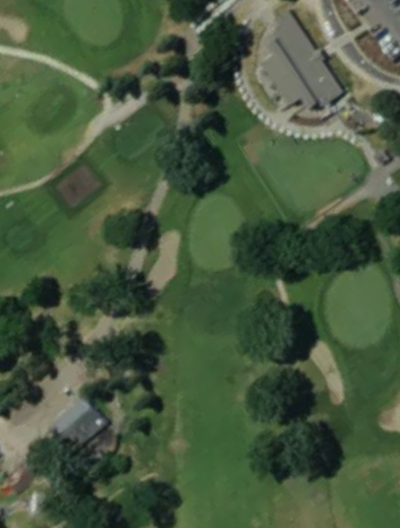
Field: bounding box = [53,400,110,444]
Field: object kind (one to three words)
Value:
barn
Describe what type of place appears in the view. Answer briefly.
golf course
